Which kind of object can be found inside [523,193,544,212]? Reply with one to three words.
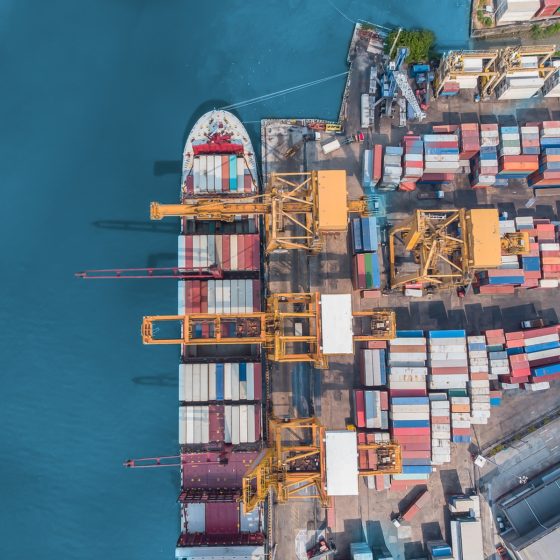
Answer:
vehicle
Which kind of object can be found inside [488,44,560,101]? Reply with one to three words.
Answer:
container crane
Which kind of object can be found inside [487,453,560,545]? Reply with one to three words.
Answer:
building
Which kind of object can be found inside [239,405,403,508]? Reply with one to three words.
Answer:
container crane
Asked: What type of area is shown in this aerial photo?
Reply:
port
